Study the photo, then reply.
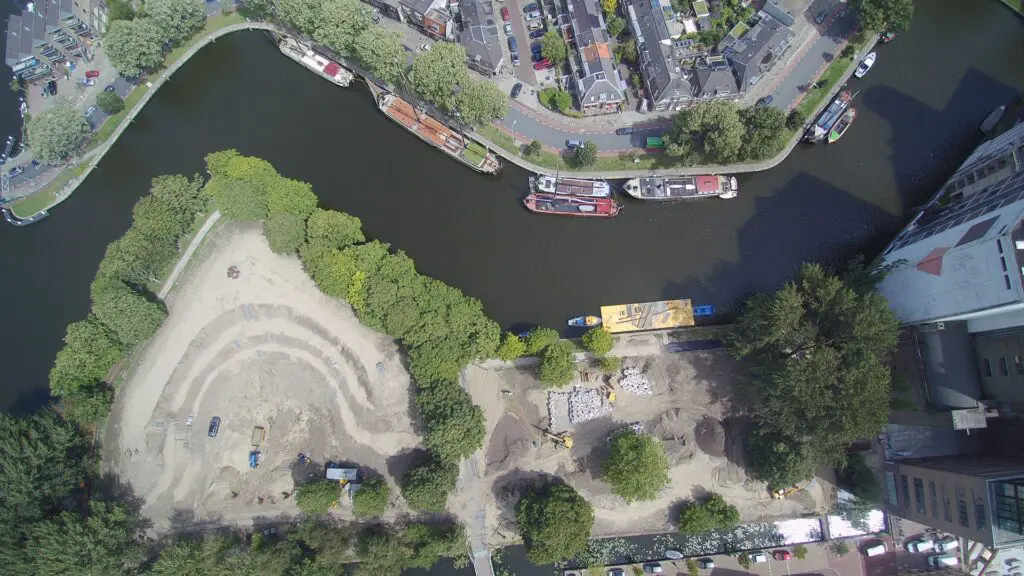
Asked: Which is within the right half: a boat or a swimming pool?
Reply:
boat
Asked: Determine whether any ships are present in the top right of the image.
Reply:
Yes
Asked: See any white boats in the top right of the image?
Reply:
Yes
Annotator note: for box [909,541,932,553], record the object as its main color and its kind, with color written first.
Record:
white vehicle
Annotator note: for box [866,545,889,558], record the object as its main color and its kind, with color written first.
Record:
white vehicle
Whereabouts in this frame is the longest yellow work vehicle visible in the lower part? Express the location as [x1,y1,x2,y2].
[531,422,577,450]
